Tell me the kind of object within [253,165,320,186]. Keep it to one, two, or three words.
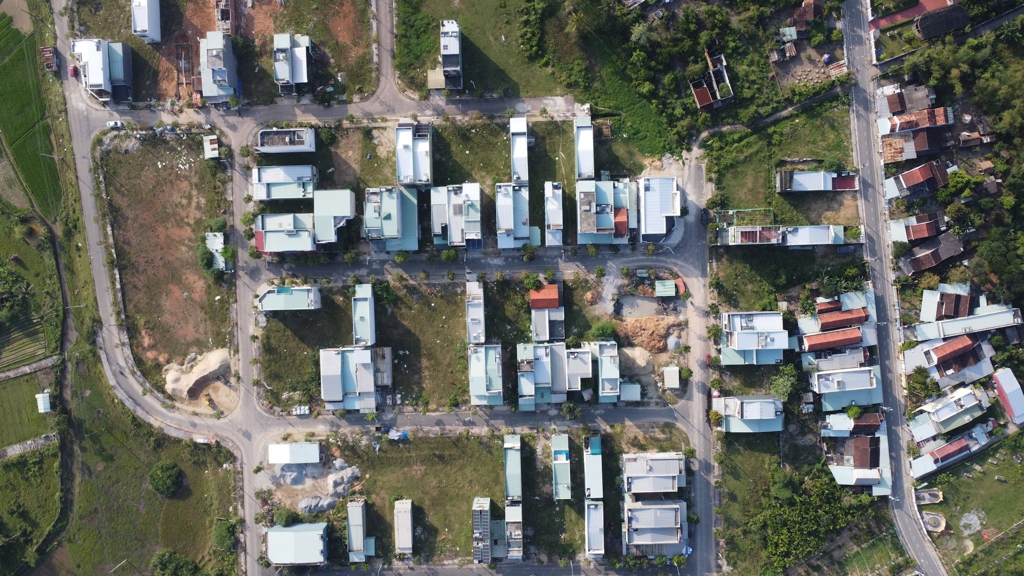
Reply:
house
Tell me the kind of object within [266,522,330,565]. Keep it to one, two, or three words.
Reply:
house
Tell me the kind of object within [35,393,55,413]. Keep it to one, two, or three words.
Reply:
shed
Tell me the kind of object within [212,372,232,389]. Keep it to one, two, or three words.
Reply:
vehicle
